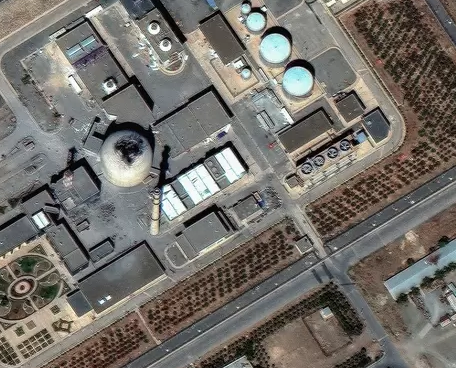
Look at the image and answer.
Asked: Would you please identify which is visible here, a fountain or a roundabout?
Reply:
fountain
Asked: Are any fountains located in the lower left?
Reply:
Yes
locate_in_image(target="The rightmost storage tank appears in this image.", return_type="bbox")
[280,66,314,103]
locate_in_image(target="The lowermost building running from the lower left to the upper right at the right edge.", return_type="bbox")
[384,239,456,302]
